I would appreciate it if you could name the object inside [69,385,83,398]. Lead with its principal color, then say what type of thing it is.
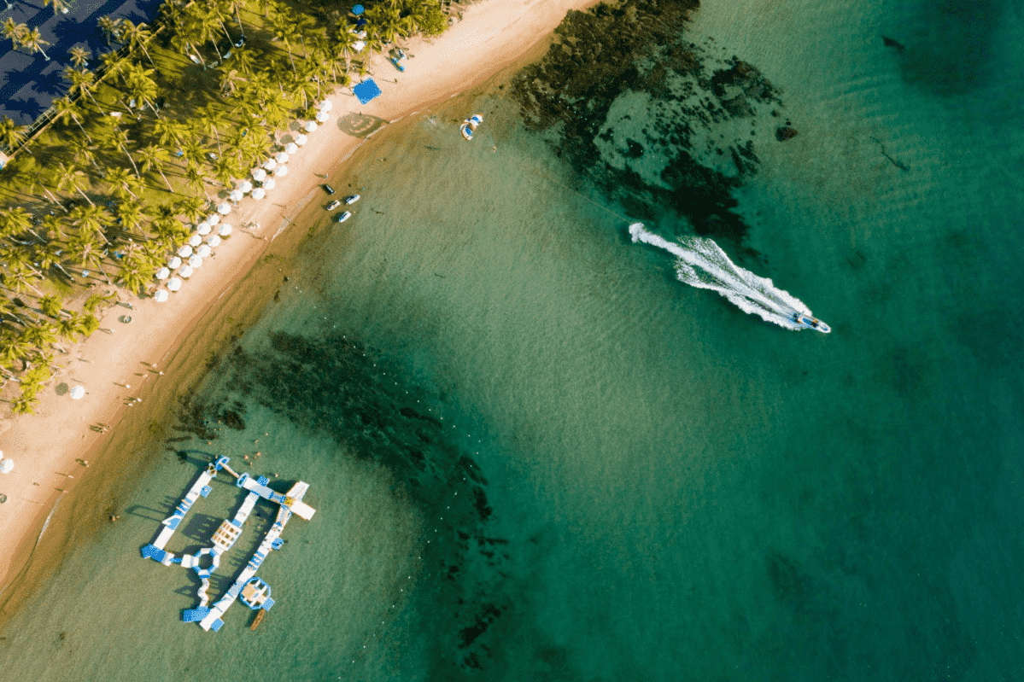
white umbrella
